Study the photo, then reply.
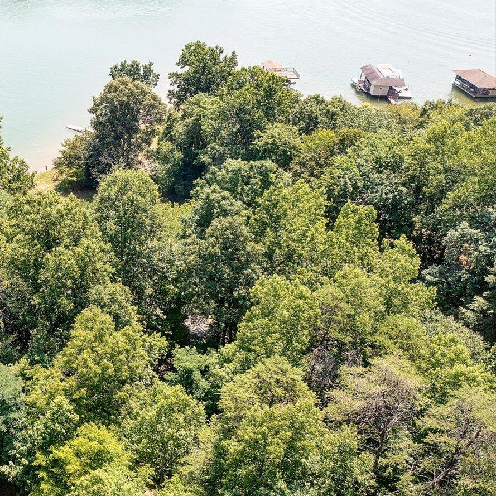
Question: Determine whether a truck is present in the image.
No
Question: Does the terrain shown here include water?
Yes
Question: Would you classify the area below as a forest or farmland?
forest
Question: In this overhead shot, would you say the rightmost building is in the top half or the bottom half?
top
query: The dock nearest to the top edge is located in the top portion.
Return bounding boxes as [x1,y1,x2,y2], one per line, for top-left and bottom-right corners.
[242,57,301,89]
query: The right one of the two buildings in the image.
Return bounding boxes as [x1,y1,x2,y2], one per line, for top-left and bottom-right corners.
[450,65,496,100]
